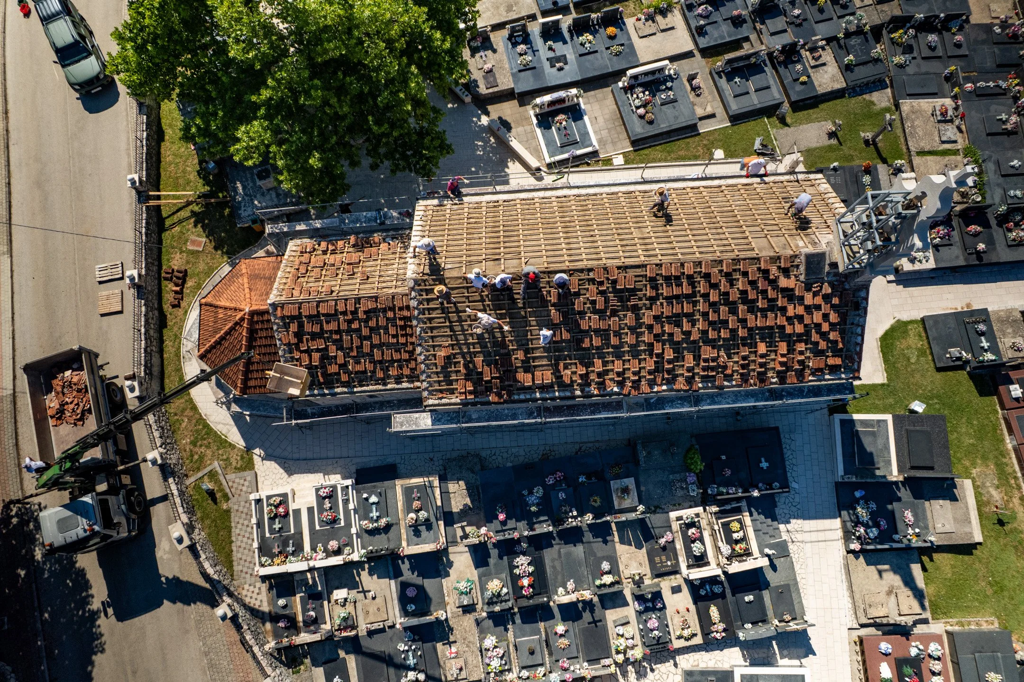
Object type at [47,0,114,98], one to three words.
truck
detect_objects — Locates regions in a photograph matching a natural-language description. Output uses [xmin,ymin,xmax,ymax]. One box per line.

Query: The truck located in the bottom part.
[9,347,279,580]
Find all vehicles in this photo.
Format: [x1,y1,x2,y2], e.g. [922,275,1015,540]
[9,347,279,580]
[47,0,114,98]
